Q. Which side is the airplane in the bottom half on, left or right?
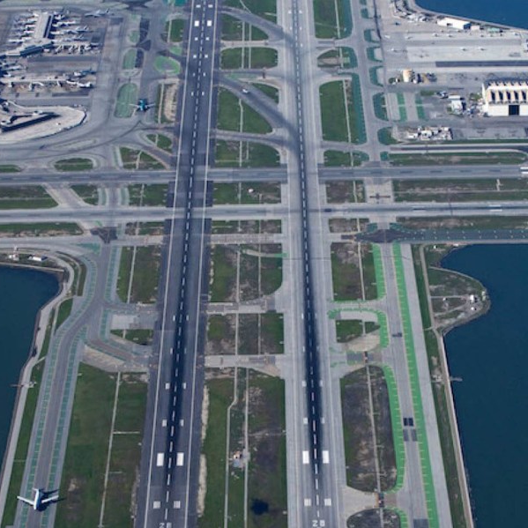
left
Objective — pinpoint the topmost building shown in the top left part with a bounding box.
[24,12,63,39]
